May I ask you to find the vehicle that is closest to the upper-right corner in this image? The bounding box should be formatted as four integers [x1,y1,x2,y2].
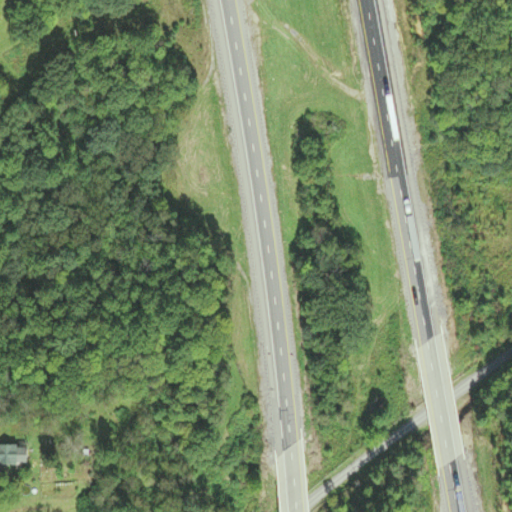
[382,76,400,142]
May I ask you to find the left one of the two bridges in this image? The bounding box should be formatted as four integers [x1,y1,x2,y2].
[276,428,309,512]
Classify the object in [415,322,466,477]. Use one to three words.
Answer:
bridge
